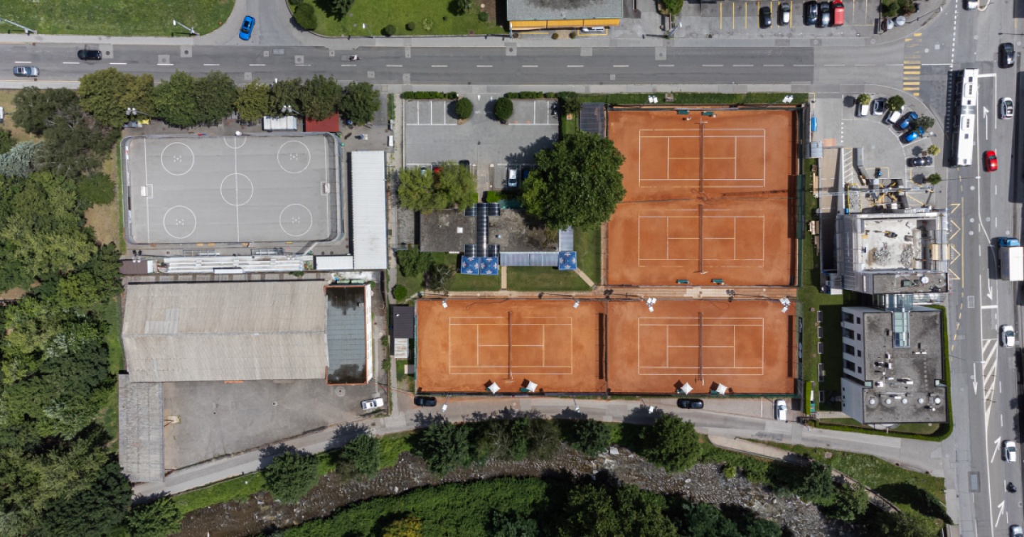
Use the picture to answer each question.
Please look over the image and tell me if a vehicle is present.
Yes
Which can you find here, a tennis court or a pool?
tennis court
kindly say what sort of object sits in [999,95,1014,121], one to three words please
car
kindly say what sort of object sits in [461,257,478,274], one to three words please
umbrella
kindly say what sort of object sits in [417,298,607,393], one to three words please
tennis court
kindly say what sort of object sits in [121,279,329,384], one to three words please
building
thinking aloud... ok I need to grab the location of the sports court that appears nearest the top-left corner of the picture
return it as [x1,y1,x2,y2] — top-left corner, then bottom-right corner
[119,133,343,245]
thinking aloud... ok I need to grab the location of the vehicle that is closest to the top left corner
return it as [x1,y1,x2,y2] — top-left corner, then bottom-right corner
[12,65,40,77]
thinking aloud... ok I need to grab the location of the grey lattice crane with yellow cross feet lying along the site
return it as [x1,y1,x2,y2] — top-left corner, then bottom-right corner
[816,182,934,207]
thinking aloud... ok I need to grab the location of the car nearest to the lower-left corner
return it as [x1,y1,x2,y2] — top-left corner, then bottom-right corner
[359,398,385,410]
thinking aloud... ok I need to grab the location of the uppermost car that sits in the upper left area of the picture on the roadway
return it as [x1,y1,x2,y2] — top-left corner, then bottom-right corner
[239,16,253,40]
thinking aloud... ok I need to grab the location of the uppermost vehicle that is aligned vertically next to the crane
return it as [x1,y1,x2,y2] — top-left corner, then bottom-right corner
[948,69,978,168]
